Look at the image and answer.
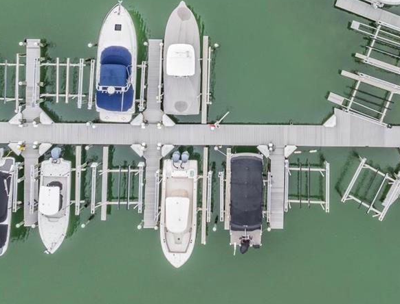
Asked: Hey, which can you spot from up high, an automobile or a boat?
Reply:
boat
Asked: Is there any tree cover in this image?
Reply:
No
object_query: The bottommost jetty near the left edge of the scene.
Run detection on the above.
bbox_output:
[9,143,54,226]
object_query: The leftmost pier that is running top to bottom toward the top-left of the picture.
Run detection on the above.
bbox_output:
[23,40,44,123]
